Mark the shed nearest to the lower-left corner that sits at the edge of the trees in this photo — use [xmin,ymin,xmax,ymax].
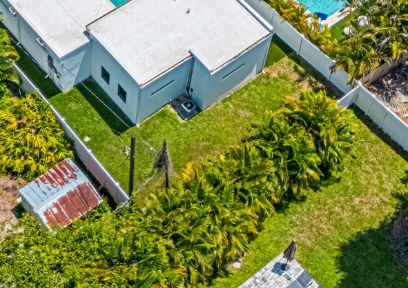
[19,158,104,240]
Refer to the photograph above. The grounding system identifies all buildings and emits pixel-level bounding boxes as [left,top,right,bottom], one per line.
[0,0,273,128]
[19,158,104,240]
